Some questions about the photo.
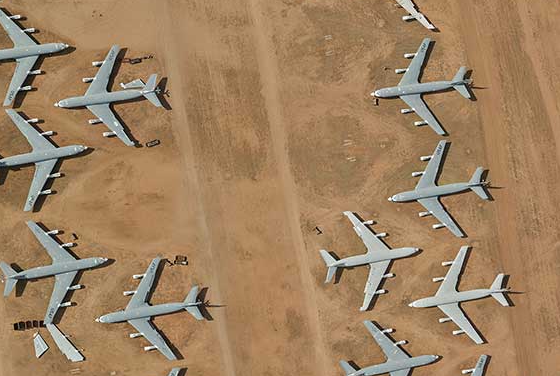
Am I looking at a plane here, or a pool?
plane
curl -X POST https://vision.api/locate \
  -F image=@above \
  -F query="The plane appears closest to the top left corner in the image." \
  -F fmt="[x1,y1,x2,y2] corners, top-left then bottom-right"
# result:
[0,9,69,106]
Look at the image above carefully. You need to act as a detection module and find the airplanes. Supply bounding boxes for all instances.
[371,38,472,135]
[389,140,491,237]
[0,108,88,211]
[54,45,164,146]
[340,320,438,376]
[409,246,513,344]
[392,0,433,29]
[0,9,69,106]
[320,212,419,311]
[96,258,210,360]
[0,221,107,324]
